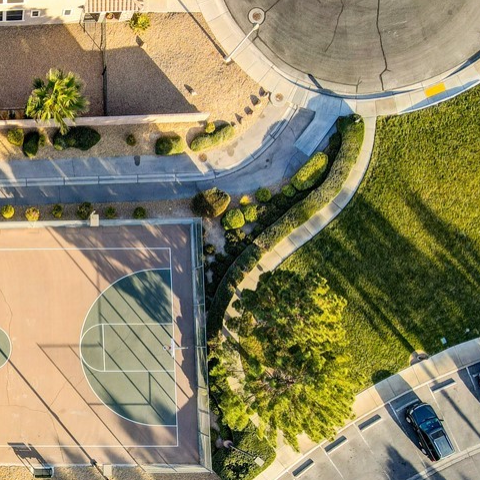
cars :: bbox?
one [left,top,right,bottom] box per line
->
[408,401,461,464]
